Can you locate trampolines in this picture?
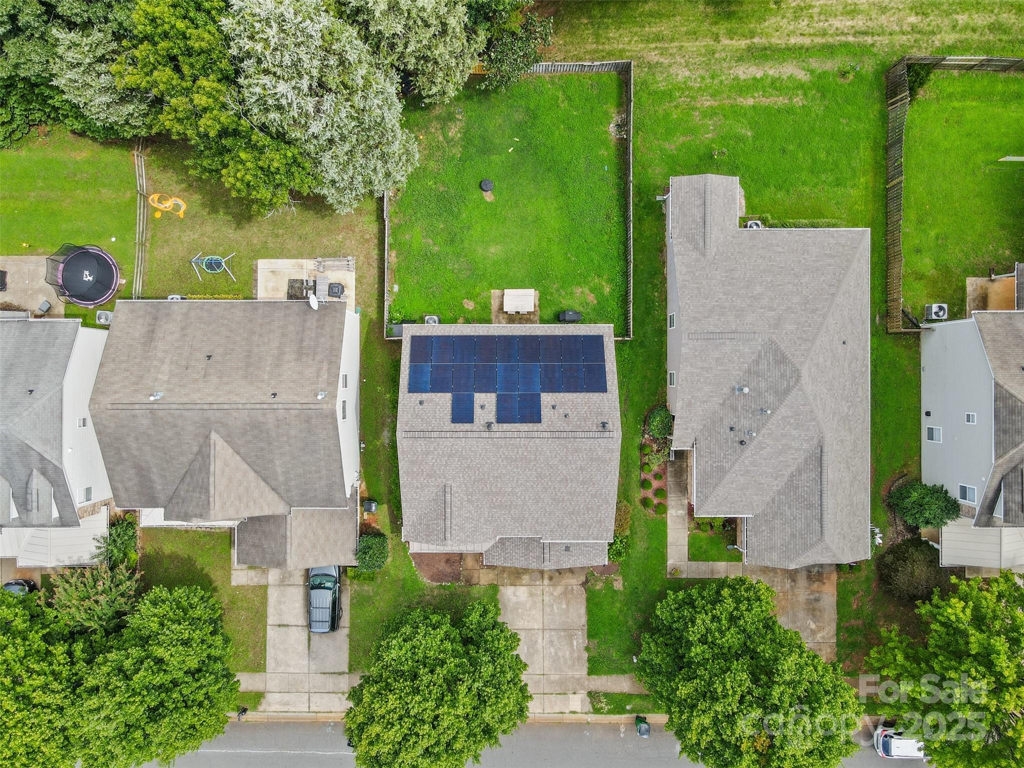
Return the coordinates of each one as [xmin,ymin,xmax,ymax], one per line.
[45,241,134,313]
[204,257,225,274]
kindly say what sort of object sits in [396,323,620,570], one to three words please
house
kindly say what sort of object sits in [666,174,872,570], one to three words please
house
